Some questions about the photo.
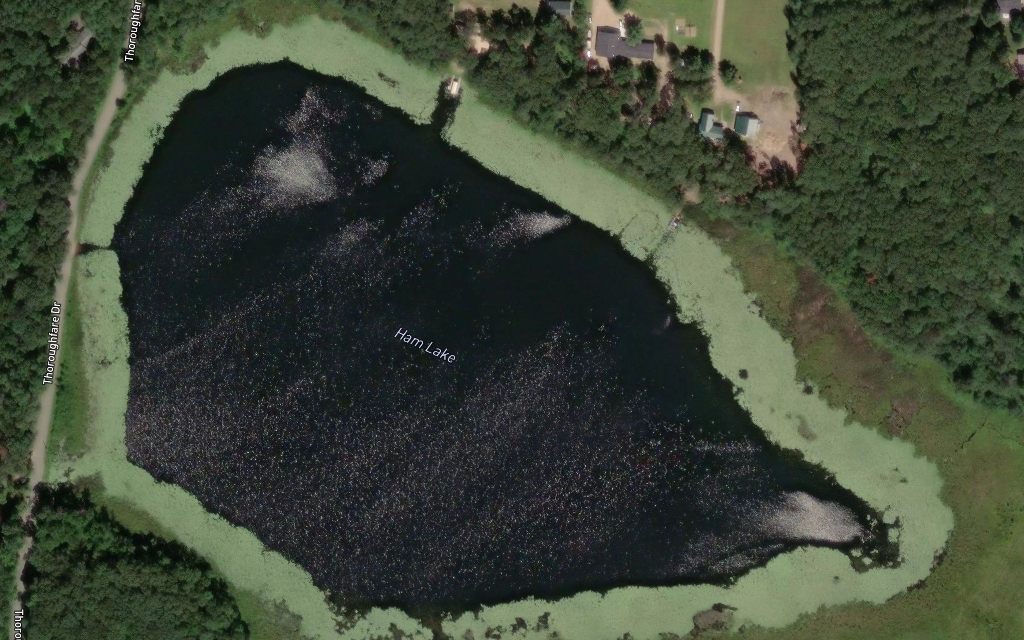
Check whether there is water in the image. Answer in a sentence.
Yes, some water is visible.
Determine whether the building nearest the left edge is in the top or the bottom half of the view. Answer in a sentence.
You can find the building nearest the left edge in the top half.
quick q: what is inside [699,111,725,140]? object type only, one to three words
house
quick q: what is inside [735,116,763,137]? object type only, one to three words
barn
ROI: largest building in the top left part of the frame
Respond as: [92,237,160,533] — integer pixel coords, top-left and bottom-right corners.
[68,30,94,62]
